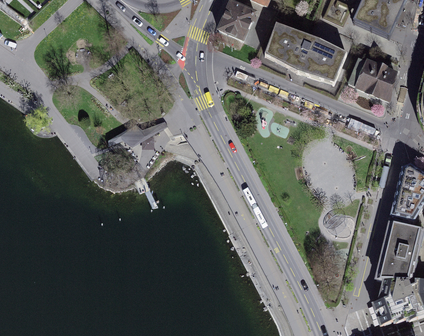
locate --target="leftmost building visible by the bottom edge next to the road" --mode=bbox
[368,298,393,328]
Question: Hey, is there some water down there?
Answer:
Yes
